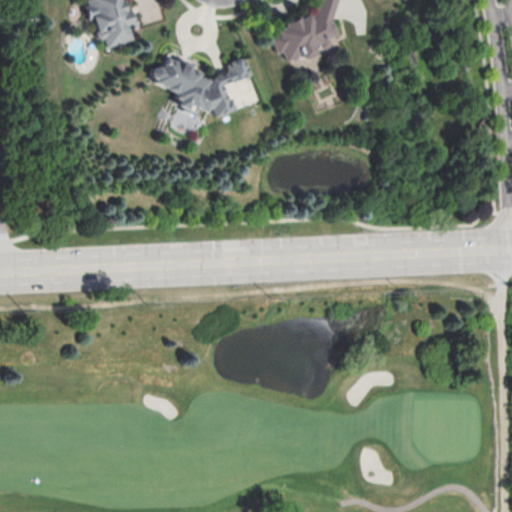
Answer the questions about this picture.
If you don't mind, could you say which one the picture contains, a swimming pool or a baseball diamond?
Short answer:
swimming pool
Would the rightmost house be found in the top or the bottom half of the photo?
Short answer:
top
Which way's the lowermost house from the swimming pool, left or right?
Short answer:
on its right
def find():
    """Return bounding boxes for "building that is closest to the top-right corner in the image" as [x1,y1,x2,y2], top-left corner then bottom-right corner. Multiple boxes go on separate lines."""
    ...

[268,0,342,66]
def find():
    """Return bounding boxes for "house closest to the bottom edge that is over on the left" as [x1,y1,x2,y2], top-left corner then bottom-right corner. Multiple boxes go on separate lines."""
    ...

[148,56,255,118]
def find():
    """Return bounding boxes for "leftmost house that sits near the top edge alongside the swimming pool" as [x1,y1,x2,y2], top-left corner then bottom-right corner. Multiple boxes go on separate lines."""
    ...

[84,0,140,51]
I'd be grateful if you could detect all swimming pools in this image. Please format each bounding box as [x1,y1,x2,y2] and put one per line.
[64,34,99,74]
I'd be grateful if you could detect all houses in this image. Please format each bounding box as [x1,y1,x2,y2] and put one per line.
[84,0,140,51]
[268,0,342,66]
[148,56,255,118]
